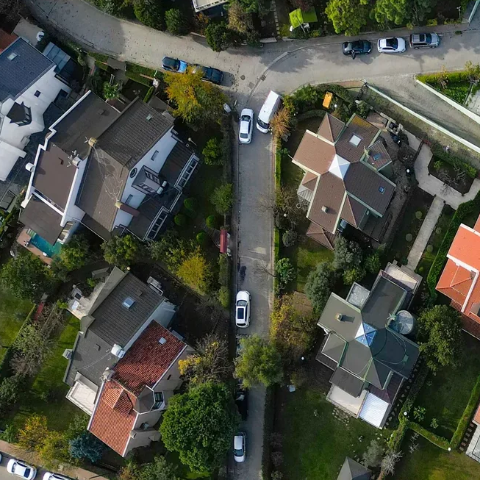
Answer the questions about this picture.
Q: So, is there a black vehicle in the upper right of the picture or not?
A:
Yes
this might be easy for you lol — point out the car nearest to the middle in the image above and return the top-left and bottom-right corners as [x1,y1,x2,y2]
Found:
[233,293,251,326]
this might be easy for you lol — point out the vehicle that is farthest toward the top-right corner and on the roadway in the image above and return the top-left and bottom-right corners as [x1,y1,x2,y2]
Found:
[407,31,441,51]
